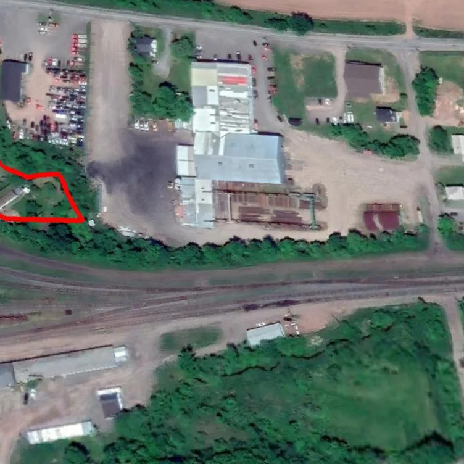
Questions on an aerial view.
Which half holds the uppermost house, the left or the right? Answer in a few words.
left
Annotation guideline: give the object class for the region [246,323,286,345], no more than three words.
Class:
shed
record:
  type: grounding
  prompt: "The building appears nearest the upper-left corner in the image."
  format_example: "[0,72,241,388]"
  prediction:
[0,61,31,103]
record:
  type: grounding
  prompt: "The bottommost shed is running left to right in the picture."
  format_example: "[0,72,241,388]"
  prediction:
[27,421,95,443]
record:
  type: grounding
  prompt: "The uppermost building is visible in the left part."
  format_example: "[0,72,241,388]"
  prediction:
[135,39,156,59]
